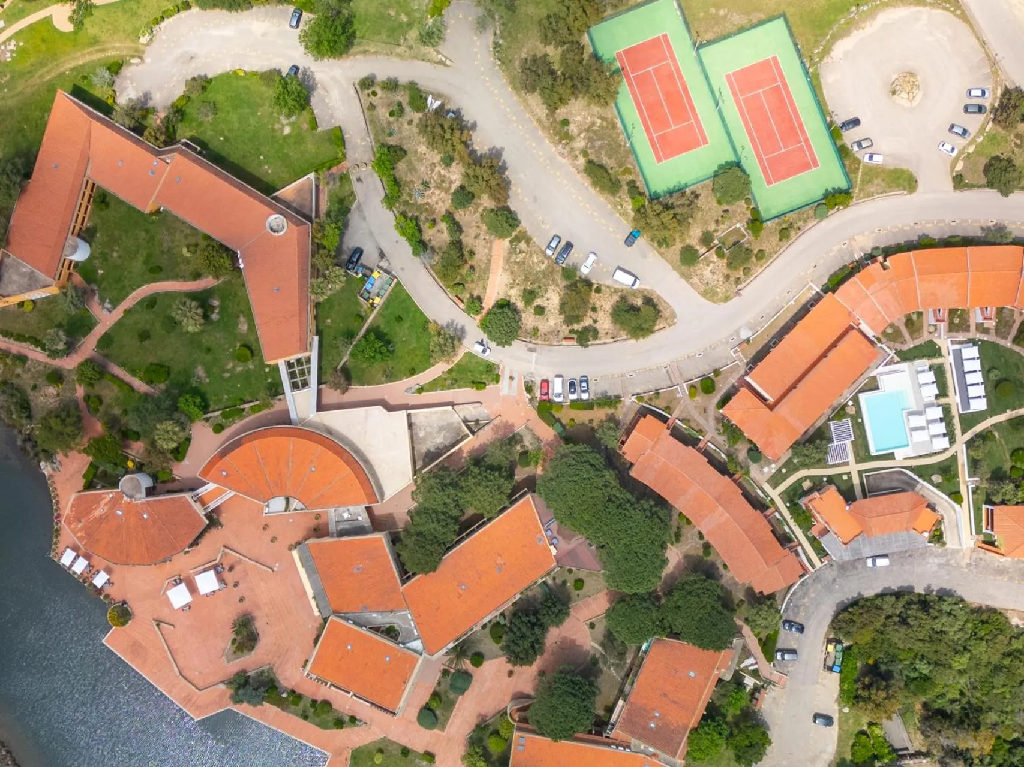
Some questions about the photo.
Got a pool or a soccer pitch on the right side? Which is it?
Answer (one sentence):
Visible on the right side is a pool.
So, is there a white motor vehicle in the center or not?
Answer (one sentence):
Yes, in the center there is a white motor vehicle.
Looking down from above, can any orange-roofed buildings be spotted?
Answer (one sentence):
Yes, an orange-roofed building can be made out from above.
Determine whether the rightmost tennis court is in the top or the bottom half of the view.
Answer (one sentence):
The rightmost tennis court sits in the top half of the picture.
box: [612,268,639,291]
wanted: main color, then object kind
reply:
white vehicle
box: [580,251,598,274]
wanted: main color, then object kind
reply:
white car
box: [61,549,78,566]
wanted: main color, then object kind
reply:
white umbrella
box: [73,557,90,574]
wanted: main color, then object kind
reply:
white umbrella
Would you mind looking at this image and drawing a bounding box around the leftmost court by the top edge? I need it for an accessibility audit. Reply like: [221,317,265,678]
[589,0,743,198]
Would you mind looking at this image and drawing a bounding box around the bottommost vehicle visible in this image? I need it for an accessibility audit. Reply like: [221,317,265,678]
[811,712,833,727]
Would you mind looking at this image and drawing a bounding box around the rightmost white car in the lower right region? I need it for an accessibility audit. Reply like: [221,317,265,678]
[865,556,889,568]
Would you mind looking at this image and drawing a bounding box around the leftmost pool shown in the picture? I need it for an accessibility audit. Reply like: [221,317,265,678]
[858,358,946,460]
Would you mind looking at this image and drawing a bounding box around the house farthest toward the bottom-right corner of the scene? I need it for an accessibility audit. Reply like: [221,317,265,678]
[971,504,1024,558]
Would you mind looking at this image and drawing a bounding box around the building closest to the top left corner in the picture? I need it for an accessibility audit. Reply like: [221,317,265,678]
[0,89,316,364]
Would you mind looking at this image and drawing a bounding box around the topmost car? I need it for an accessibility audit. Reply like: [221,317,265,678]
[289,8,303,30]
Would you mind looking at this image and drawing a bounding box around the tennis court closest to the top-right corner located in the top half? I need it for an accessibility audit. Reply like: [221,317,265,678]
[701,10,856,221]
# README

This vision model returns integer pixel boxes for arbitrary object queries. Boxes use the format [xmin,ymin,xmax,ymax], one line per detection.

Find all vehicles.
[775,649,797,661]
[838,116,861,133]
[612,268,639,291]
[474,340,492,357]
[811,712,833,727]
[553,376,564,402]
[850,137,873,152]
[781,619,804,634]
[865,556,889,568]
[540,381,549,400]
[286,64,300,79]
[580,251,598,274]
[625,229,640,249]
[936,140,958,157]
[545,234,562,256]
[445,110,456,119]
[962,103,985,115]
[556,240,574,265]
[289,8,303,30]
[346,246,364,271]
[568,379,577,400]
[863,153,883,164]
[947,123,970,140]
[579,377,589,399]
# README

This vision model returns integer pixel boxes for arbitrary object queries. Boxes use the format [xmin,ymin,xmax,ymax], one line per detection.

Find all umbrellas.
[61,549,78,566]
[195,570,219,595]
[73,557,90,574]
[167,583,192,609]
[93,571,110,588]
